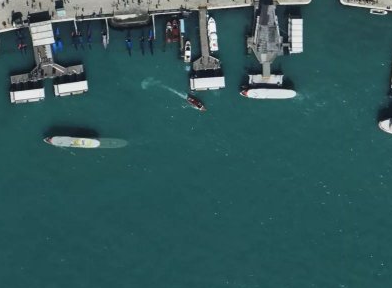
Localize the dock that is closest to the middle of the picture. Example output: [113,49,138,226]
[190,77,225,91]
